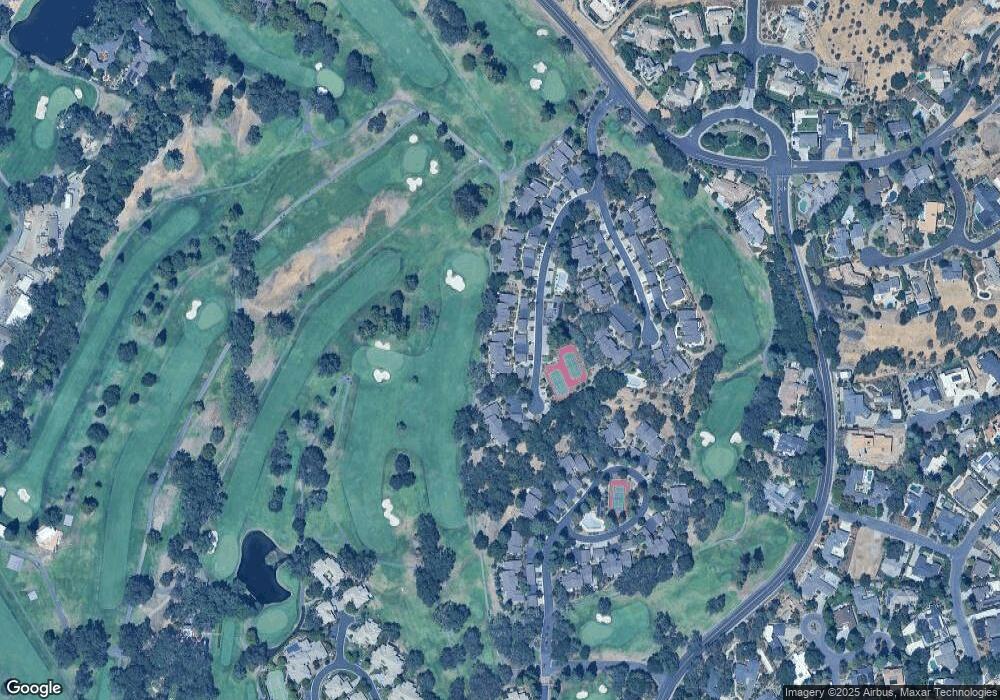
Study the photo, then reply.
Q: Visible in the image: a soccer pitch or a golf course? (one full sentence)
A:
Looking from above, you can make out a golf course.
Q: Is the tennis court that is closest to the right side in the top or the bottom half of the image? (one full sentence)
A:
The bottom half of the photo is where the tennis court that is closest to the right side is.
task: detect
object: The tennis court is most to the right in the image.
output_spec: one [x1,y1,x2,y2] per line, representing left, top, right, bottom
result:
[608,479,631,515]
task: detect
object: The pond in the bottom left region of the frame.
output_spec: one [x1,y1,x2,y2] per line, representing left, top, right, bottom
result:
[237,529,292,603]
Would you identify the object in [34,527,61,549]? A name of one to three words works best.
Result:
building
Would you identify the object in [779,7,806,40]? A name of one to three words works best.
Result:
house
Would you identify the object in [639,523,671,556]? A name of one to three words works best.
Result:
house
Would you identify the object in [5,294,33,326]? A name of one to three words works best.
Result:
shed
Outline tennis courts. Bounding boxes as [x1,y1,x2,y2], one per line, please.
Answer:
[544,362,570,401]
[559,344,588,391]
[608,479,631,515]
